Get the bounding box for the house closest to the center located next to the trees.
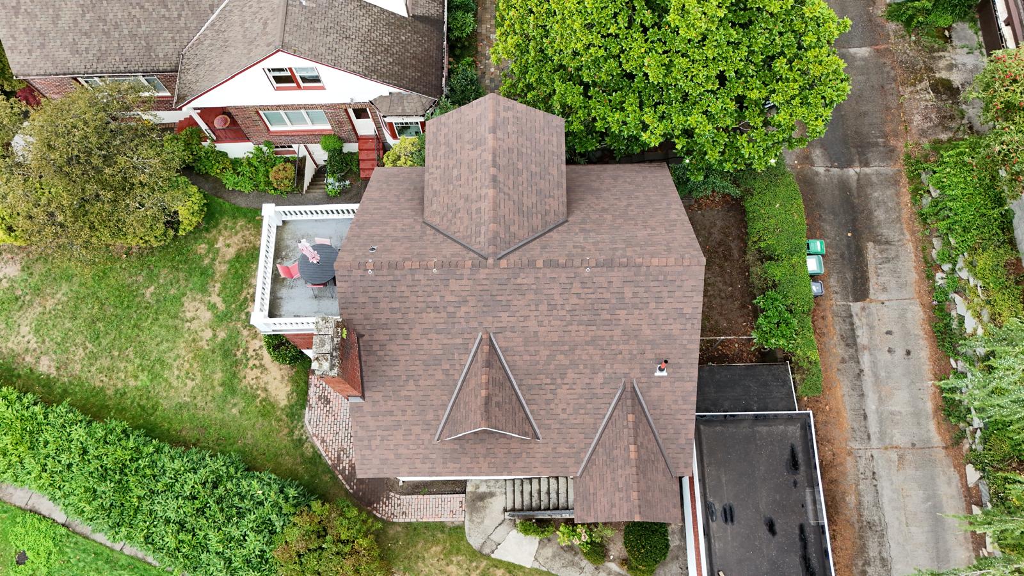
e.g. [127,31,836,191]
[304,92,706,523]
